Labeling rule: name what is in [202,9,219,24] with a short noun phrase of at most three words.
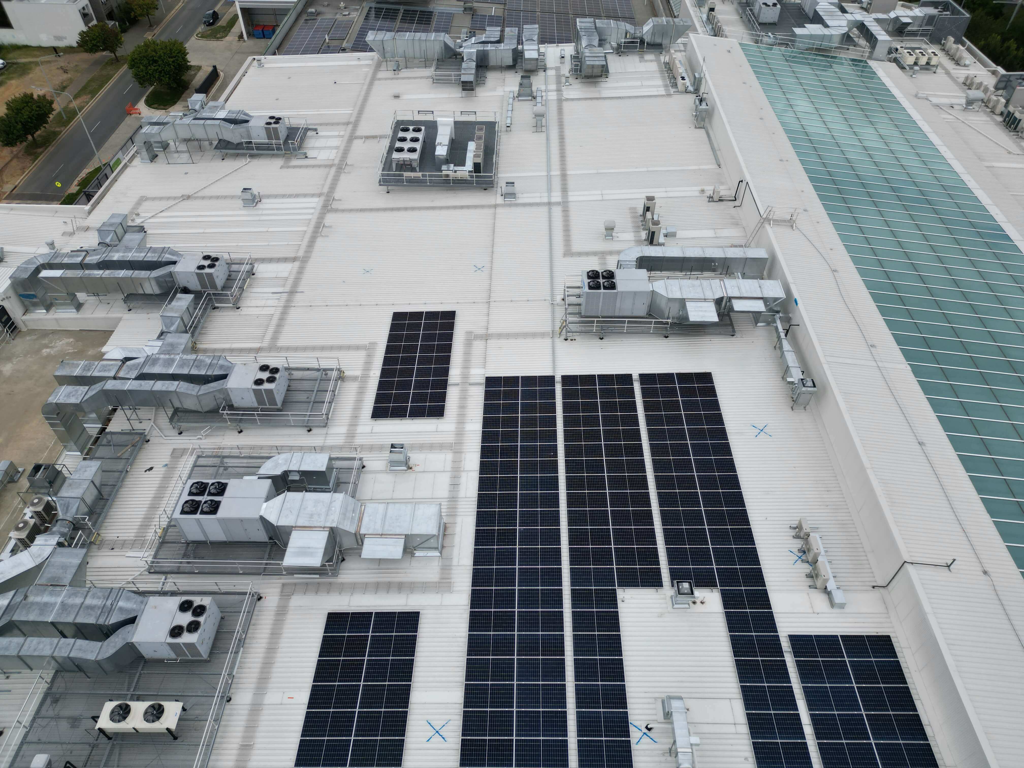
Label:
car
